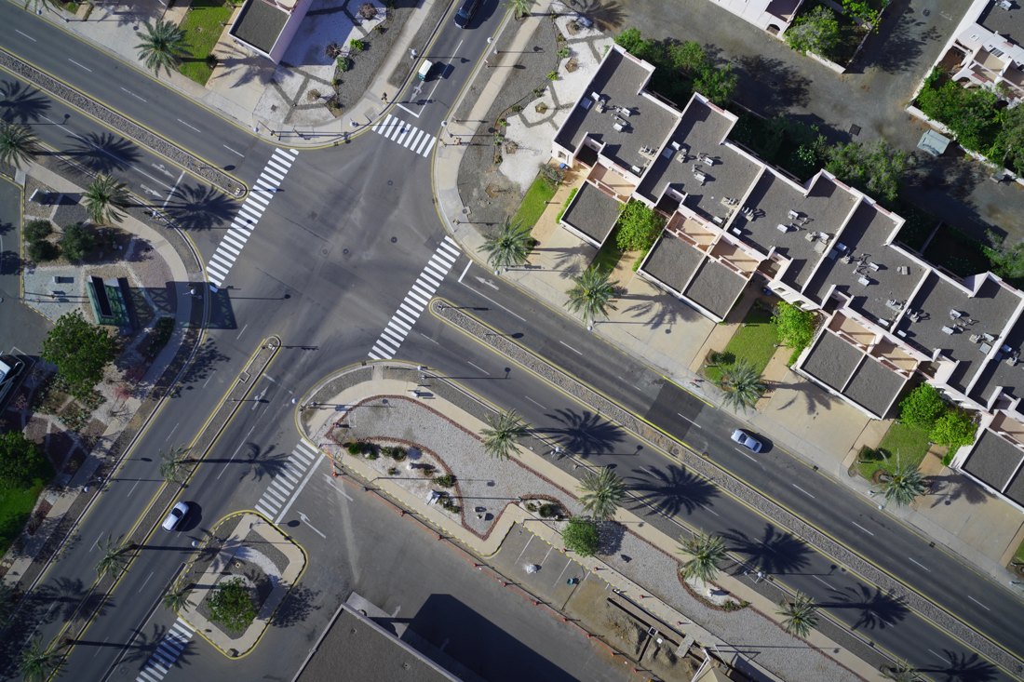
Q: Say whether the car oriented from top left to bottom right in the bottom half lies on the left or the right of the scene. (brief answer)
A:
right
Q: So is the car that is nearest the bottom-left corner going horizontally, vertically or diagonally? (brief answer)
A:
diagonally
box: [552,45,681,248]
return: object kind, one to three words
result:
house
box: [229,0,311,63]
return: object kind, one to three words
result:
house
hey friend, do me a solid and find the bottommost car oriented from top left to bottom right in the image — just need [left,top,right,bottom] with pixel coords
[731,429,763,453]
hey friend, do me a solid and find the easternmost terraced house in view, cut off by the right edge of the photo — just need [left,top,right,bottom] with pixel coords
[947,308,1024,493]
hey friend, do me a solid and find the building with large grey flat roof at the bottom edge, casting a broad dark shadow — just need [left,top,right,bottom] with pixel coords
[293,593,471,682]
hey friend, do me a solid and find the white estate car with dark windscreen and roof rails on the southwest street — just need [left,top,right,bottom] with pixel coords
[160,500,187,533]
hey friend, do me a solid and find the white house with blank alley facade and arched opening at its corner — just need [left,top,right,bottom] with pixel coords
[712,0,812,40]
